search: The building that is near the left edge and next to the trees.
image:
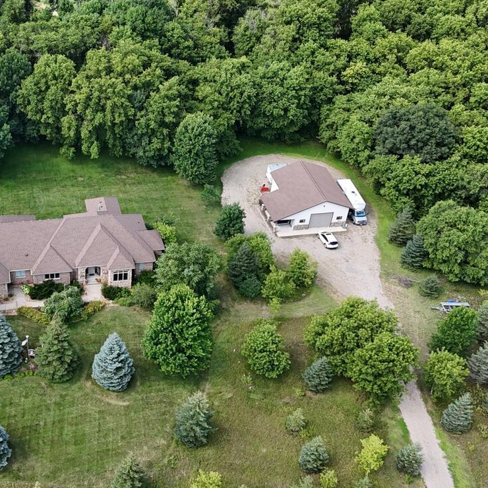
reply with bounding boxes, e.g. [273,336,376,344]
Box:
[0,197,165,297]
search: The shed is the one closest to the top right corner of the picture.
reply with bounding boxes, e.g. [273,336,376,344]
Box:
[260,160,355,233]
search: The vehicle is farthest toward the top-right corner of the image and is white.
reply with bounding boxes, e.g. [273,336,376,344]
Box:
[338,178,368,222]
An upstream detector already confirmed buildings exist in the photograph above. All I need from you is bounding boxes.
[0,197,165,297]
[260,160,355,233]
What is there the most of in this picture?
trees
